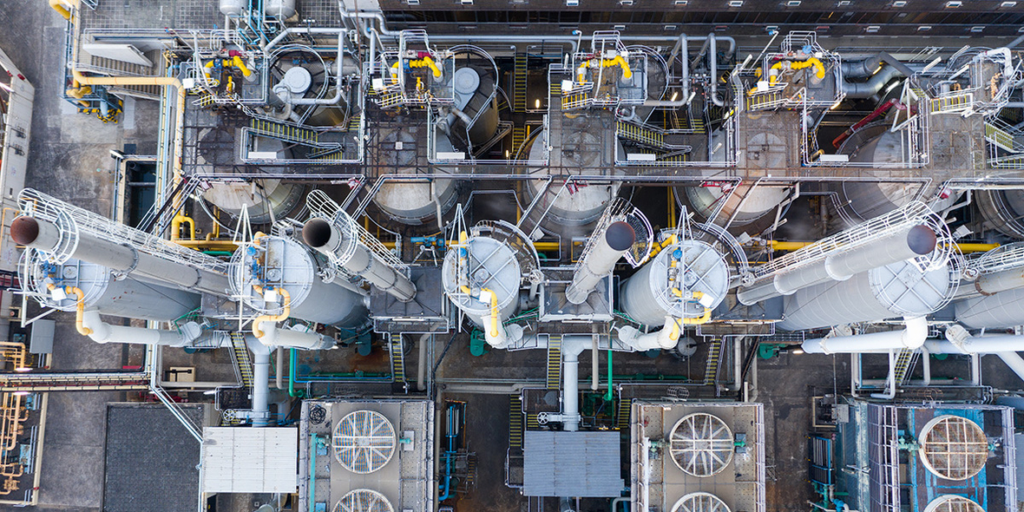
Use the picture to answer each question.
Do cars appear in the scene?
No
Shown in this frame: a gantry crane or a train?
train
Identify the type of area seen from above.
industrial area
